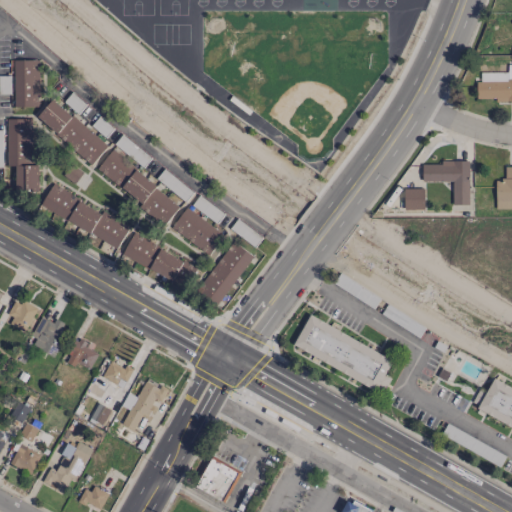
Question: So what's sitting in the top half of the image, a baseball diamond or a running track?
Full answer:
What appears in the top half of the image is a baseball diamond.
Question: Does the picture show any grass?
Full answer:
Yes, some grass is visible.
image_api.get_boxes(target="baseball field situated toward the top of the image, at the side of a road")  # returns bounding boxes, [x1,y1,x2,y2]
[203,12,389,162]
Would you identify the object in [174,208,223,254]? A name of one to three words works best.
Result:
building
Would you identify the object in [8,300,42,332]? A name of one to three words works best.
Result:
house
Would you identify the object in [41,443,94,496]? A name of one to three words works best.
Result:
house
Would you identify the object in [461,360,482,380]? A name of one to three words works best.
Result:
swimming pool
